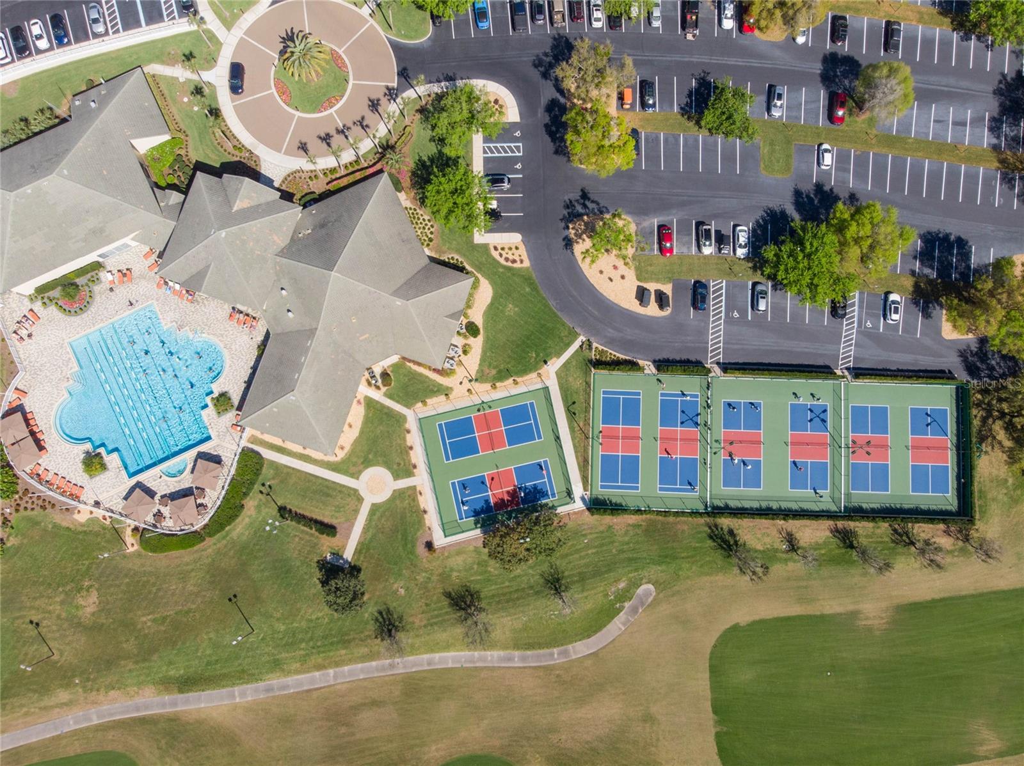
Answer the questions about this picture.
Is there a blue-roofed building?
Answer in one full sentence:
No, there is no blue-roofed building in the image.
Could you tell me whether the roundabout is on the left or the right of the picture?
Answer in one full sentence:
The roundabout appears in the left half of the scene.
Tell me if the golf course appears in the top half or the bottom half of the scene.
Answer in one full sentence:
The golf course sits in the bottom half of the picture.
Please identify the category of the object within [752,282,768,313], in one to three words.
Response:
car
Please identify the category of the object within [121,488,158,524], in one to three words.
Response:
umbrella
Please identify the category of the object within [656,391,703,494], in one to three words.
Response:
sports court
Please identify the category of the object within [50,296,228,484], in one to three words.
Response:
swimming pool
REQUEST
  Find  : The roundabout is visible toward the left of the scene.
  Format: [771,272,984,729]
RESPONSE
[215,0,400,169]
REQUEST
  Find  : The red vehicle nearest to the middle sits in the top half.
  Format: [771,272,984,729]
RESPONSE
[659,226,674,256]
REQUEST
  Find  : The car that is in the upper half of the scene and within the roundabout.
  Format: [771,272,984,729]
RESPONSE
[228,62,245,94]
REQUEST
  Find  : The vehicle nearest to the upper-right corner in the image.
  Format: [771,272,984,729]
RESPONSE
[884,22,901,55]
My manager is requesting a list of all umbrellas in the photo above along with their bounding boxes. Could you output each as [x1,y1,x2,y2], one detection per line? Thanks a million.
[121,488,158,524]
[191,459,222,490]
[0,412,31,446]
[169,496,200,527]
[7,436,43,471]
